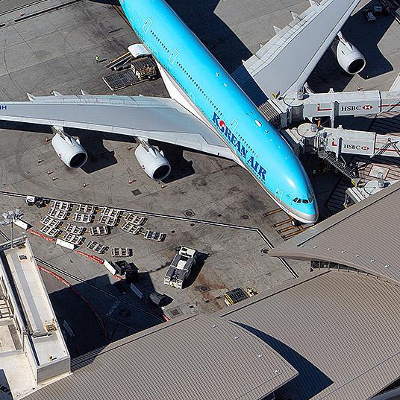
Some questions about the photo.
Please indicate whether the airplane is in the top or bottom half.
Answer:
top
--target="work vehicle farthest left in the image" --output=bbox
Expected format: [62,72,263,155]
[22,192,43,207]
